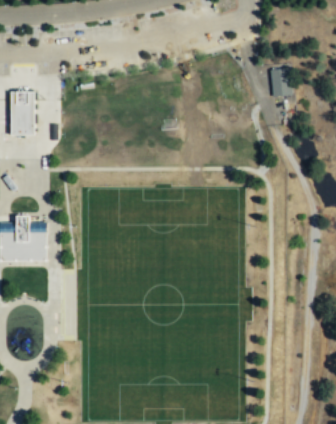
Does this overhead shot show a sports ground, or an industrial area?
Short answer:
sports ground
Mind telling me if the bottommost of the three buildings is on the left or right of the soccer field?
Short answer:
to its left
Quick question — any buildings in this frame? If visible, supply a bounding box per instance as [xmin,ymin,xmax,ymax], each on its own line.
[0,215,50,262]
[272,68,295,96]
[11,88,36,135]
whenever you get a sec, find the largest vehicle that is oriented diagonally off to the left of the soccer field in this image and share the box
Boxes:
[2,173,18,191]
